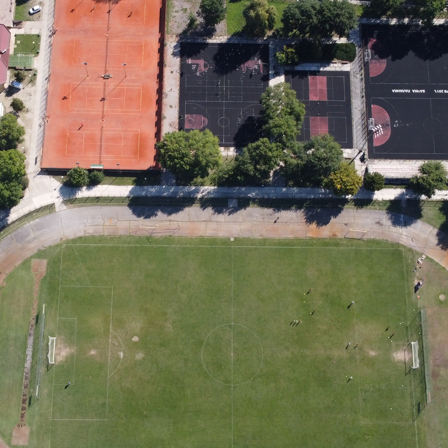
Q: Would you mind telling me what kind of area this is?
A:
sports ground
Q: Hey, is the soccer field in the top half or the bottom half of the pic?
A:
bottom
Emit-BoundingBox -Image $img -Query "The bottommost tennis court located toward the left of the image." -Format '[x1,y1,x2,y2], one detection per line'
[41,122,162,168]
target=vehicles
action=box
[9,80,23,89]
[28,4,42,14]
